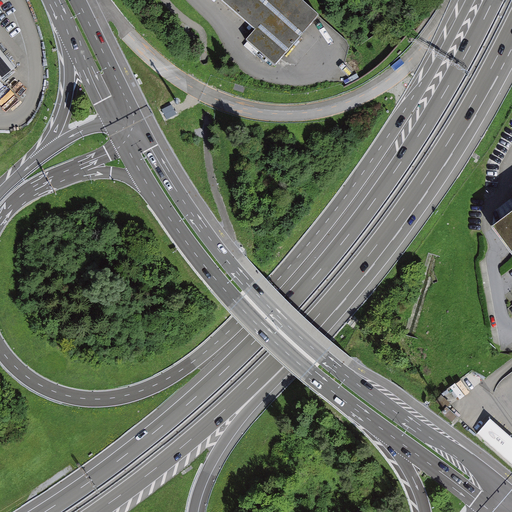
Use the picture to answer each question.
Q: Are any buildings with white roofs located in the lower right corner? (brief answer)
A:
Yes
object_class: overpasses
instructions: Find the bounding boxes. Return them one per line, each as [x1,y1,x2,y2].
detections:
[230,273,334,382]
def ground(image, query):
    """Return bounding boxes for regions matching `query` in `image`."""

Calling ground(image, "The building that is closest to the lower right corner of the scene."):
[476,418,512,463]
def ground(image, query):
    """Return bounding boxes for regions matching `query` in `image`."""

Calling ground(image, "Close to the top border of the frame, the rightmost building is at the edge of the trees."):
[221,0,318,64]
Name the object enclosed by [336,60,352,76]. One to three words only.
vehicle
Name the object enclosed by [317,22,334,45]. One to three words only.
vehicle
